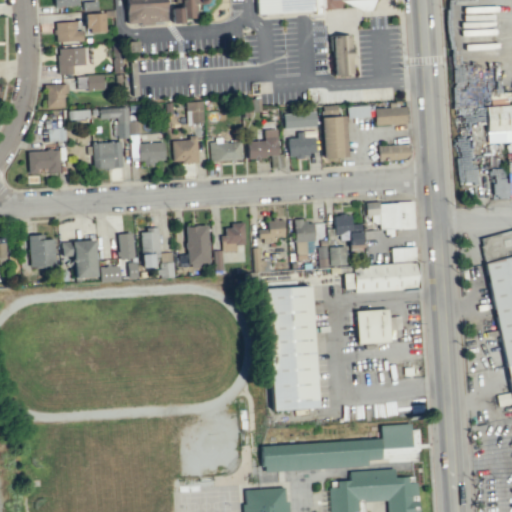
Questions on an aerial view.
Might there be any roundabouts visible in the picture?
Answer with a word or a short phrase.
No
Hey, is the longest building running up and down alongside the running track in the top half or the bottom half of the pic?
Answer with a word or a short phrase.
bottom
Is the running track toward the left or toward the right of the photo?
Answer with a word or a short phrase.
left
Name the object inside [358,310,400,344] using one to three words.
building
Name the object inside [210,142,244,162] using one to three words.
house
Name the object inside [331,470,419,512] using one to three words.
building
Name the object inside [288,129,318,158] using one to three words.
house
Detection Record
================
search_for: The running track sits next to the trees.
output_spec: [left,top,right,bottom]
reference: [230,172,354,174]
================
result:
[0,284,248,422]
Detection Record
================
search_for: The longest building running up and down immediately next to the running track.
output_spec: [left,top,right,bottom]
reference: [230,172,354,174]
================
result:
[269,286,320,412]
